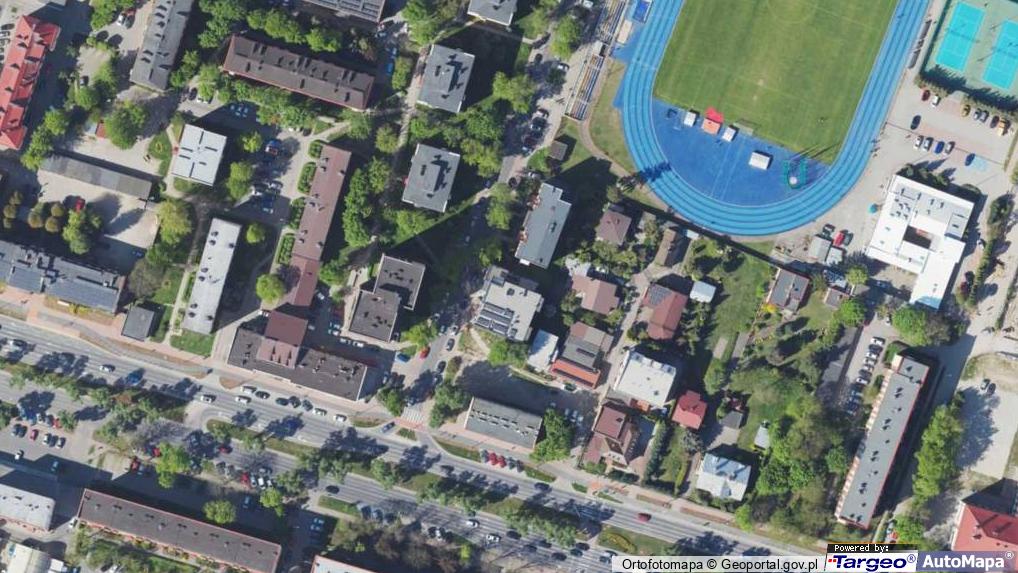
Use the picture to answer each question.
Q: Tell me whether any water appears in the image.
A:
No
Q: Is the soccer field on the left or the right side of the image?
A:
right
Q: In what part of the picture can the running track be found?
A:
top right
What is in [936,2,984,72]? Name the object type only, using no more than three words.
tennis court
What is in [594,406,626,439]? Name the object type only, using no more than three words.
house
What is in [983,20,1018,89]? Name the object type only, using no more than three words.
tennis court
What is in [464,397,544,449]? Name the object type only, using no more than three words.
building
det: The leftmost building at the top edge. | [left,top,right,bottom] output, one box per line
[0,13,52,152]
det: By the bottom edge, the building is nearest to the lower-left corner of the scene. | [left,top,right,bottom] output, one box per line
[5,544,49,573]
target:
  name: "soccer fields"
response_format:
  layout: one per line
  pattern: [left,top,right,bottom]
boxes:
[653,0,894,163]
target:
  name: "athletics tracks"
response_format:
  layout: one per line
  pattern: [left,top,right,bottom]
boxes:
[623,0,925,237]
